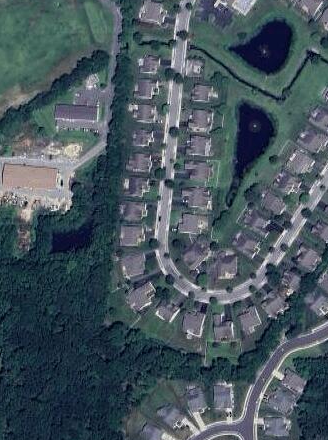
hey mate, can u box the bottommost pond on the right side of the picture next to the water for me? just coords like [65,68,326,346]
[233,102,275,182]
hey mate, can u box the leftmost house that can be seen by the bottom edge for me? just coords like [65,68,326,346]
[136,422,168,440]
